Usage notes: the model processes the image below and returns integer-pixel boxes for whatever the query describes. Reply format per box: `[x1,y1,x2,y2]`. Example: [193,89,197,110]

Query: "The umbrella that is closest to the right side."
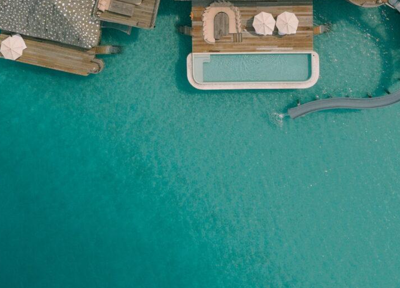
[276,11,298,33]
